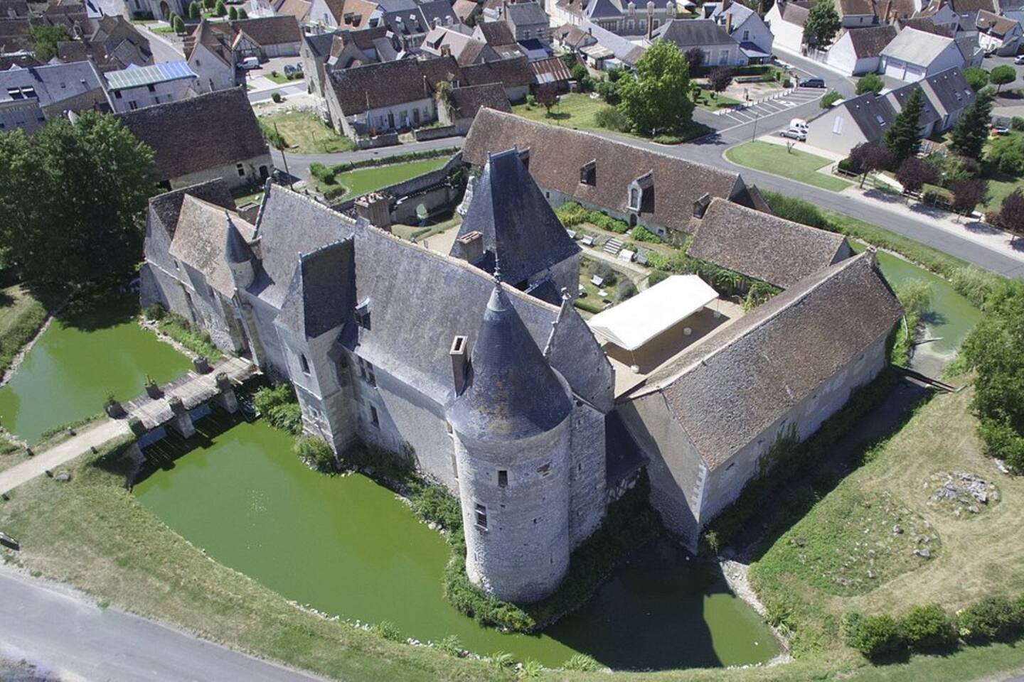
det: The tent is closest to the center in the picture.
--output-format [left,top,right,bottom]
[589,274,715,362]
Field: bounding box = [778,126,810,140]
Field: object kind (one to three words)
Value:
car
